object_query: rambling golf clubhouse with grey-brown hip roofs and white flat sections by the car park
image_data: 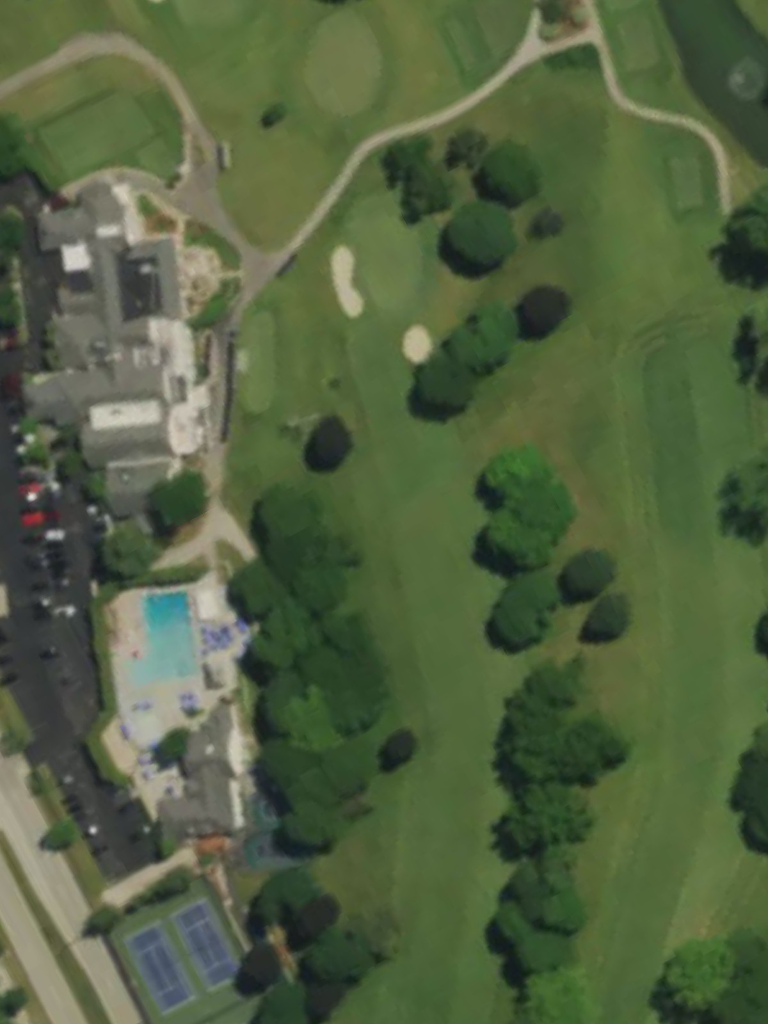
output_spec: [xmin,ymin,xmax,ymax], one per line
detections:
[24,181,188,517]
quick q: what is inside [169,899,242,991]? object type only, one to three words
tennis court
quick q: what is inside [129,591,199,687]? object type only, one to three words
swimming pool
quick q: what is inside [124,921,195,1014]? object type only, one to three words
tennis court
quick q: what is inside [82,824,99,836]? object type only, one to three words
vehicle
